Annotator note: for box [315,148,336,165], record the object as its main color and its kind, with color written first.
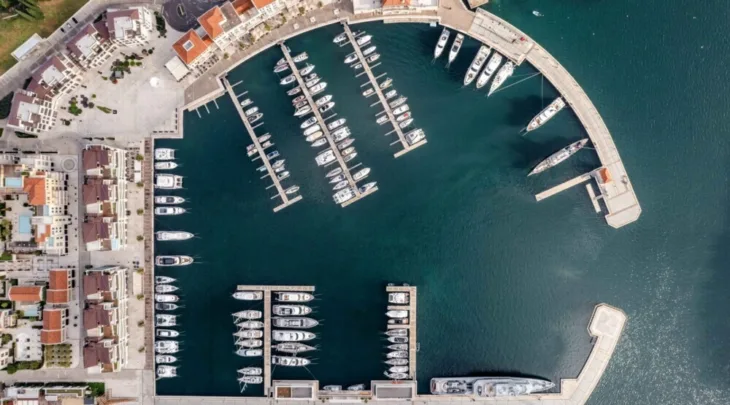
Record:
white boat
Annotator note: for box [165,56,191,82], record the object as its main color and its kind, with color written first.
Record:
white tent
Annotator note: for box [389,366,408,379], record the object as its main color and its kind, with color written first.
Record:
white boat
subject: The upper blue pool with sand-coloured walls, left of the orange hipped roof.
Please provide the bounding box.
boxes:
[0,165,28,189]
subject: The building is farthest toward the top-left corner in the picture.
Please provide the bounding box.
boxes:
[10,33,48,61]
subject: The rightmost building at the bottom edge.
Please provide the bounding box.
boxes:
[376,384,414,400]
